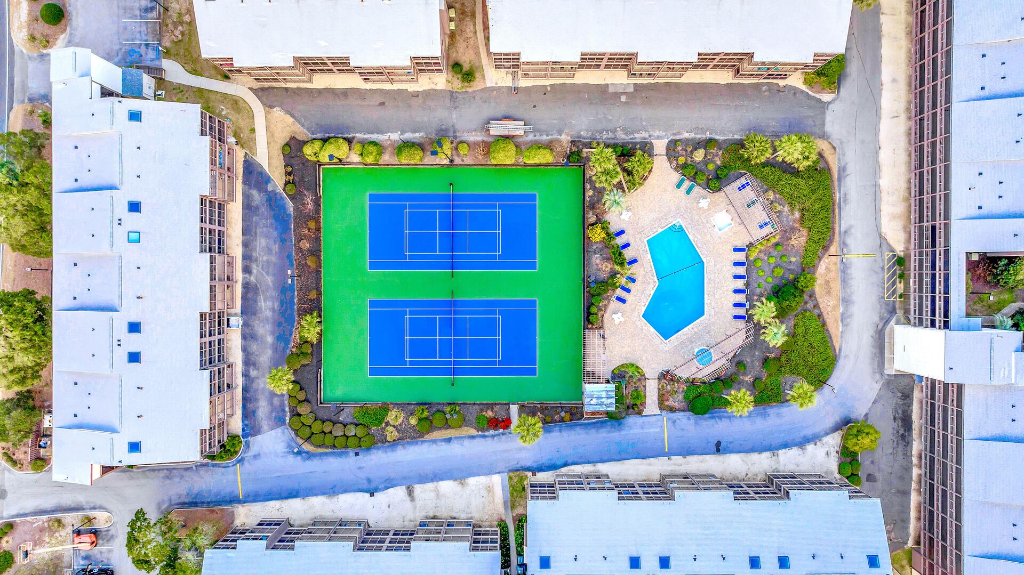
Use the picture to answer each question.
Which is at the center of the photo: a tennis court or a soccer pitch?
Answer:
tennis court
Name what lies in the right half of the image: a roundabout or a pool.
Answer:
pool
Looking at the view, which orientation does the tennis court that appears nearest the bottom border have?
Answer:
horizontally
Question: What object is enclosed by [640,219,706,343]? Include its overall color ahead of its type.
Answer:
blue swimming pool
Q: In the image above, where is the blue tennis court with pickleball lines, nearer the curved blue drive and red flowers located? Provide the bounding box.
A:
[322,285,583,402]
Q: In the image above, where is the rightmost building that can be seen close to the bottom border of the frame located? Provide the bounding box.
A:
[924,378,1024,575]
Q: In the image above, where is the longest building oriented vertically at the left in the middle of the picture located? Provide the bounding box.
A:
[49,44,236,487]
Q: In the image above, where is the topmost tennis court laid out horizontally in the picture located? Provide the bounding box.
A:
[322,167,583,285]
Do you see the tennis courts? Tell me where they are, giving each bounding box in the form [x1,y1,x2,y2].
[322,167,583,285]
[322,285,583,402]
